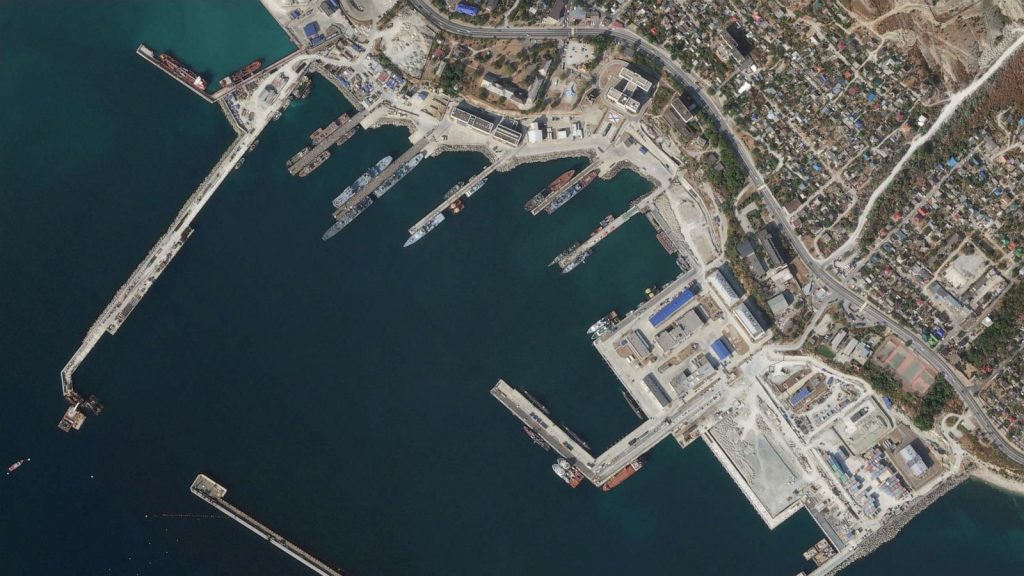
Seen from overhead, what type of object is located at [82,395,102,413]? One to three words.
boat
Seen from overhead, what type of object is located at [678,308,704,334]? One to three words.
building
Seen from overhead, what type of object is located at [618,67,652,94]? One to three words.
building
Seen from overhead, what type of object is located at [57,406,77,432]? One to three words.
ship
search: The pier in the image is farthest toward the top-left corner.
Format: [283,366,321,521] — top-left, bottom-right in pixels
[136,44,213,104]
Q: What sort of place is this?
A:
port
